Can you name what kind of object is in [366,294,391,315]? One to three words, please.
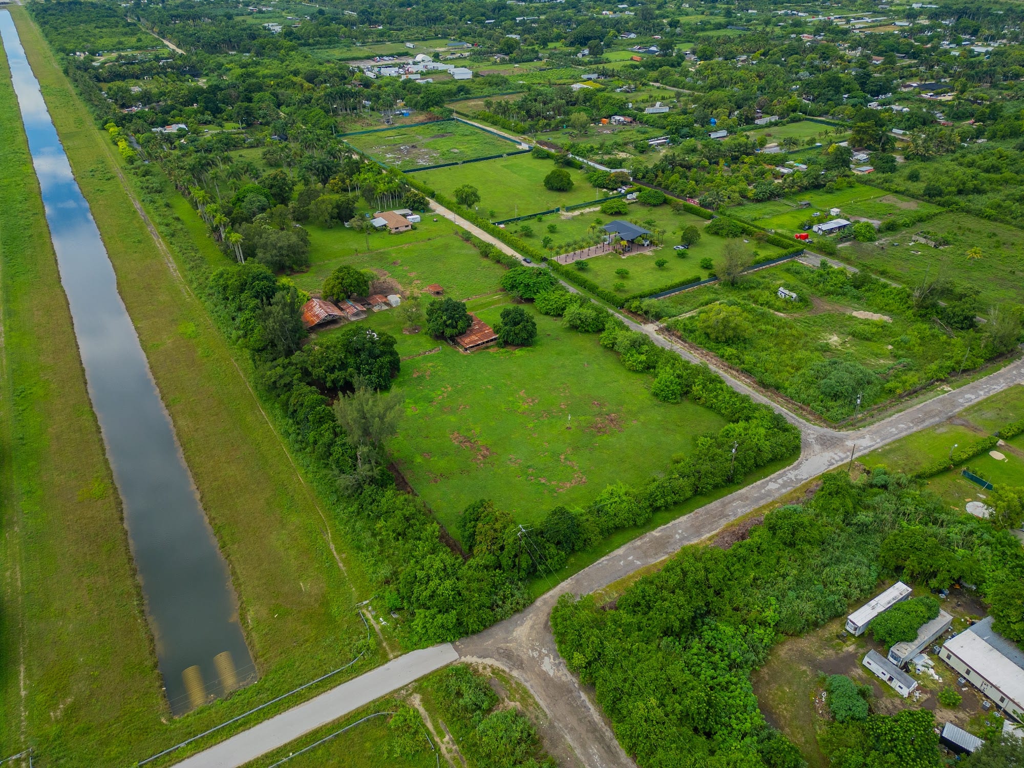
shed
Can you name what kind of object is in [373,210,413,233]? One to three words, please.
house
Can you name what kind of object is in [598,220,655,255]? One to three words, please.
building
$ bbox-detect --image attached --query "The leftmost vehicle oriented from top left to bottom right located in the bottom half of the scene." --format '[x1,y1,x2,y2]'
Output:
[864,646,919,702]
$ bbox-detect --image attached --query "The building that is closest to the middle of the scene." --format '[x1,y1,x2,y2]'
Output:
[441,311,500,356]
